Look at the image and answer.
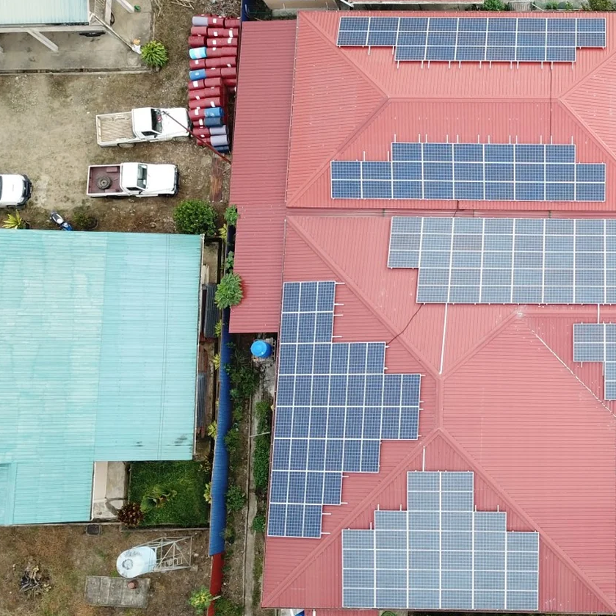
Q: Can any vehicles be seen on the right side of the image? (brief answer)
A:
No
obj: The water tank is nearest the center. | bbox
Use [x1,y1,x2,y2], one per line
[251,338,275,366]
